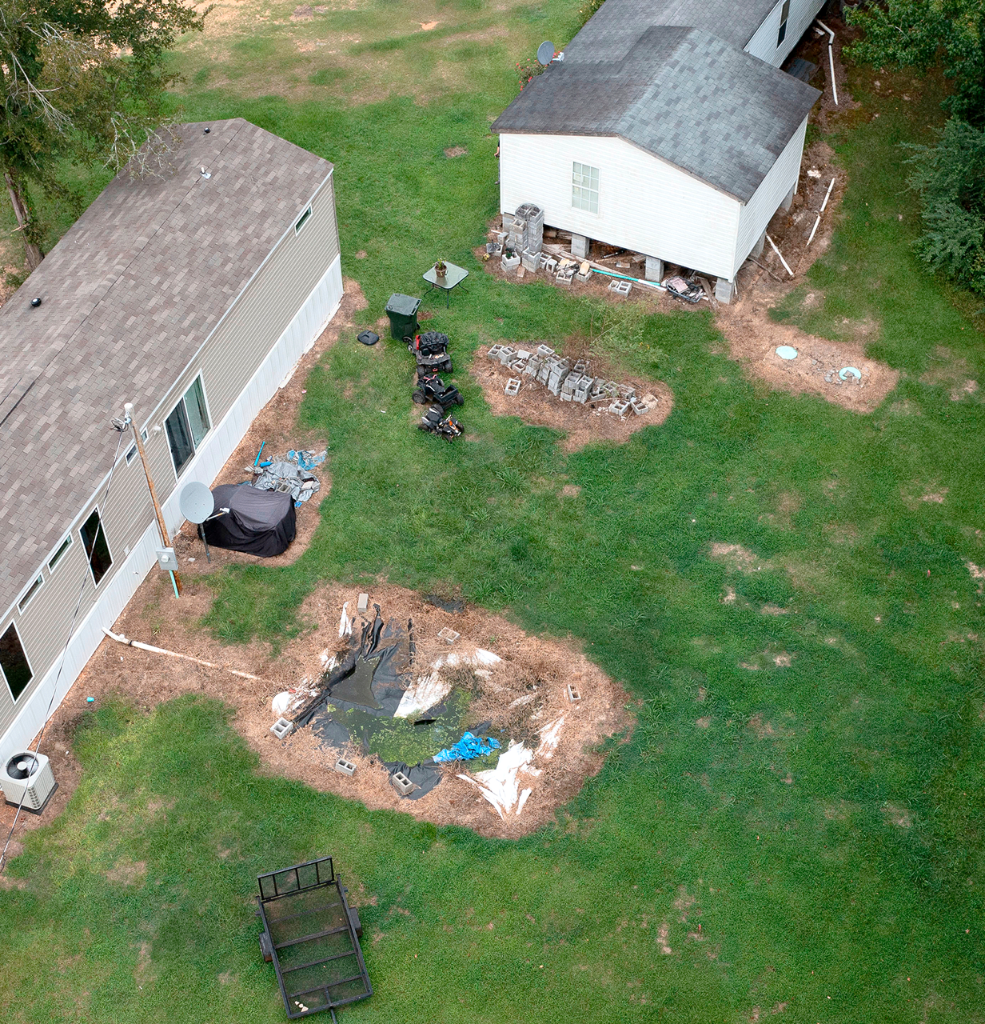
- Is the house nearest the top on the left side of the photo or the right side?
right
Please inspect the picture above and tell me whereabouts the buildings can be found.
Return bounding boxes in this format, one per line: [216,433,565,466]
[489,0,829,284]
[0,118,345,774]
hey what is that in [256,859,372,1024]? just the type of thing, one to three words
trailer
